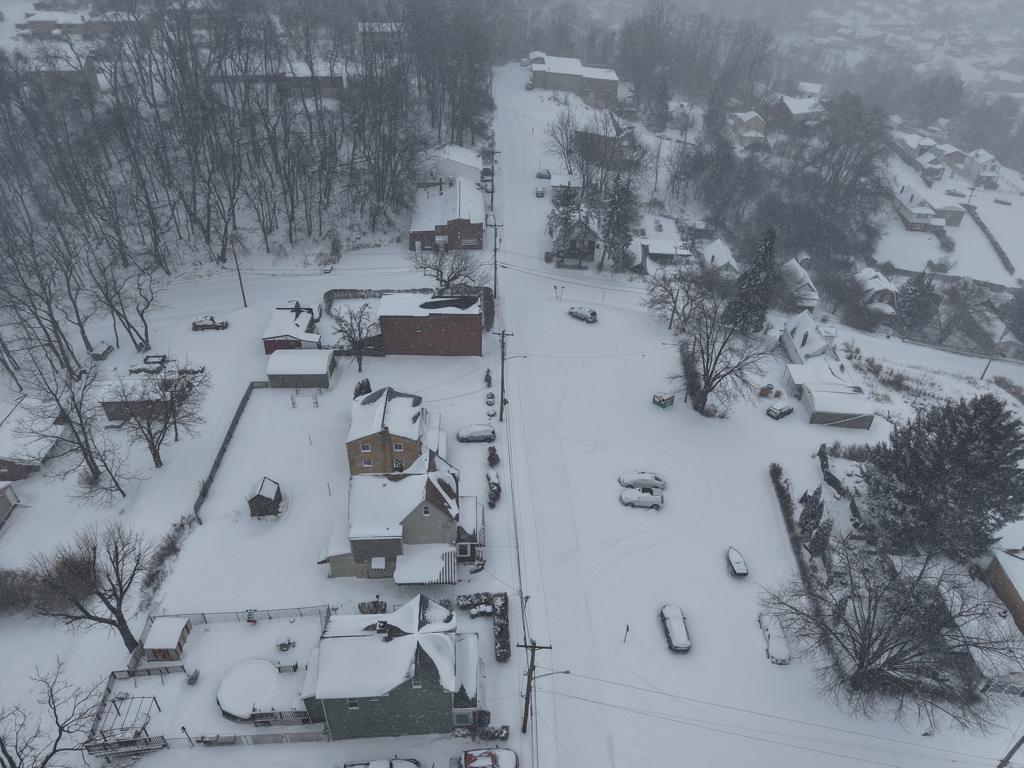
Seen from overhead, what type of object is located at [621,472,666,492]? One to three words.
car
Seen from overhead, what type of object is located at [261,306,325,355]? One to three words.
building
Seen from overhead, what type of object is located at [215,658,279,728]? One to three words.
swimming pool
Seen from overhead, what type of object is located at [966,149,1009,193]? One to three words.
house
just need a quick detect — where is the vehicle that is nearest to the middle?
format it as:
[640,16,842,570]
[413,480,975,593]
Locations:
[458,425,496,445]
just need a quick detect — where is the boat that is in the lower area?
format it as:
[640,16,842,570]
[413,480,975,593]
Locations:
[726,538,751,576]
